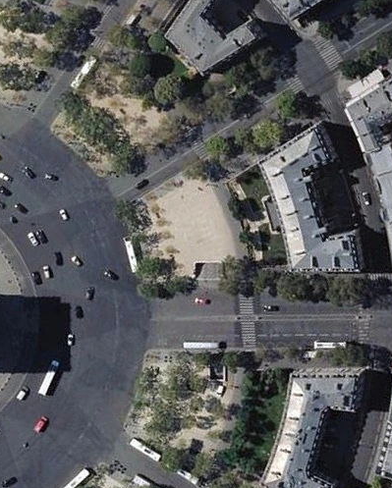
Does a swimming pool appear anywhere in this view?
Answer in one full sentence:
No, this view has no swimming pool in it.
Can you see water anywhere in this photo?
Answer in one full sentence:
No, there is no water in the image.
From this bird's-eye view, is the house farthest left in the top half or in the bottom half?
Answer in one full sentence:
The house farthest left is in the top half of the image.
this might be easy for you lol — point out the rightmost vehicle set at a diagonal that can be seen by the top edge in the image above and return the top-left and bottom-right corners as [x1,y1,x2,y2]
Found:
[126,10,139,27]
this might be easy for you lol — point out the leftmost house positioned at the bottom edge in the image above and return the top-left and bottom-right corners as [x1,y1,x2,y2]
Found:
[262,371,362,488]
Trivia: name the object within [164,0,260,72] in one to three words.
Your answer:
house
